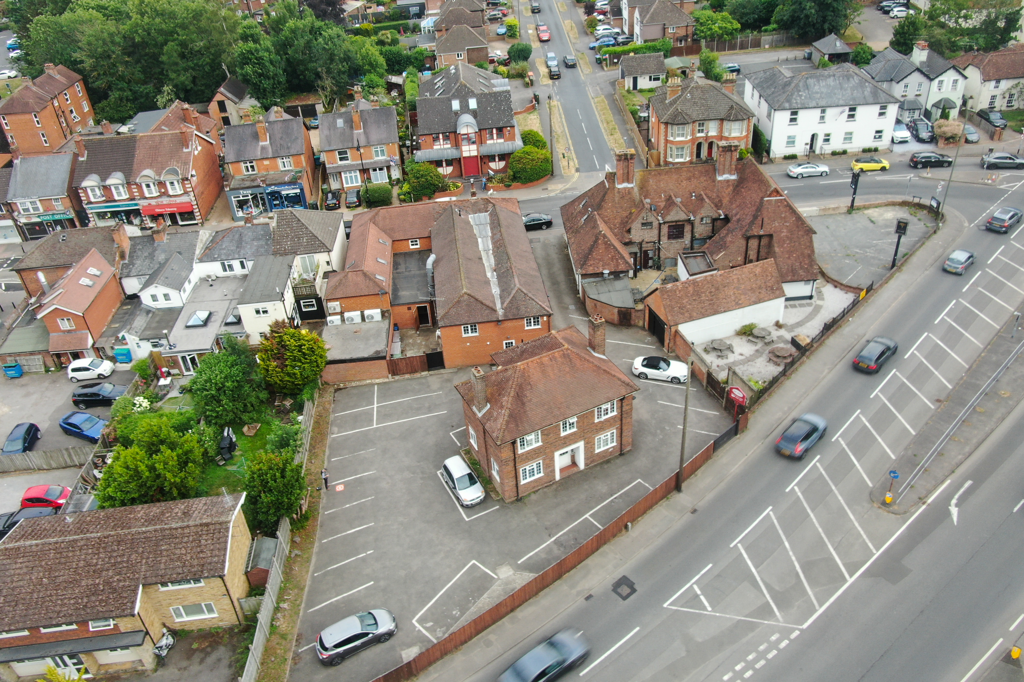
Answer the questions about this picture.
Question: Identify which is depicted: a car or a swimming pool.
car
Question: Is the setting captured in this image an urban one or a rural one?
urban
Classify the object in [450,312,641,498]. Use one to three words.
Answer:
house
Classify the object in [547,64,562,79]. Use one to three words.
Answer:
car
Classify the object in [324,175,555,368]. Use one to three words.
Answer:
building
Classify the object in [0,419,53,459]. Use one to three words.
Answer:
car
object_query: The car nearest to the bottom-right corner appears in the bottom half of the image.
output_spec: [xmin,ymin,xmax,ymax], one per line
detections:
[781,415,829,459]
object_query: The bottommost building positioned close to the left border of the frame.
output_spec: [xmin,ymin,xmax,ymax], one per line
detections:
[0,493,255,675]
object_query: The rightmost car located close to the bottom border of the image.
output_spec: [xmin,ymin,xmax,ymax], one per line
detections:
[505,632,593,682]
